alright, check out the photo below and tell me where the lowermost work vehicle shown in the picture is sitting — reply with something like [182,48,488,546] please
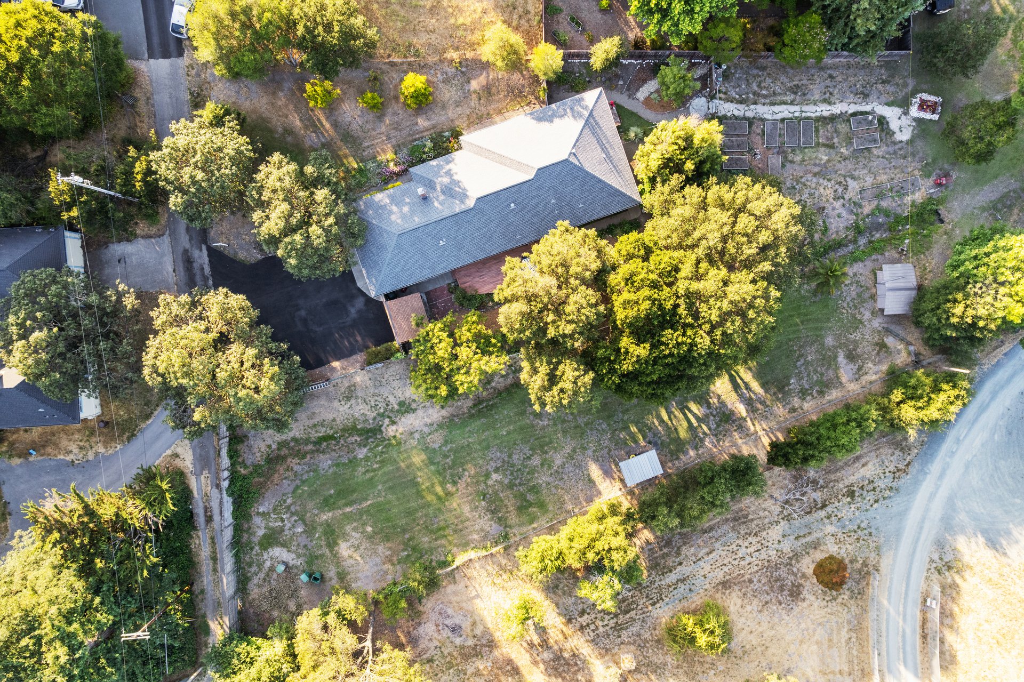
[935,174,958,187]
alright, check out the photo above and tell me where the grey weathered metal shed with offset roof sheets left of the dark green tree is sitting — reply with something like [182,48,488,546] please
[877,263,925,315]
